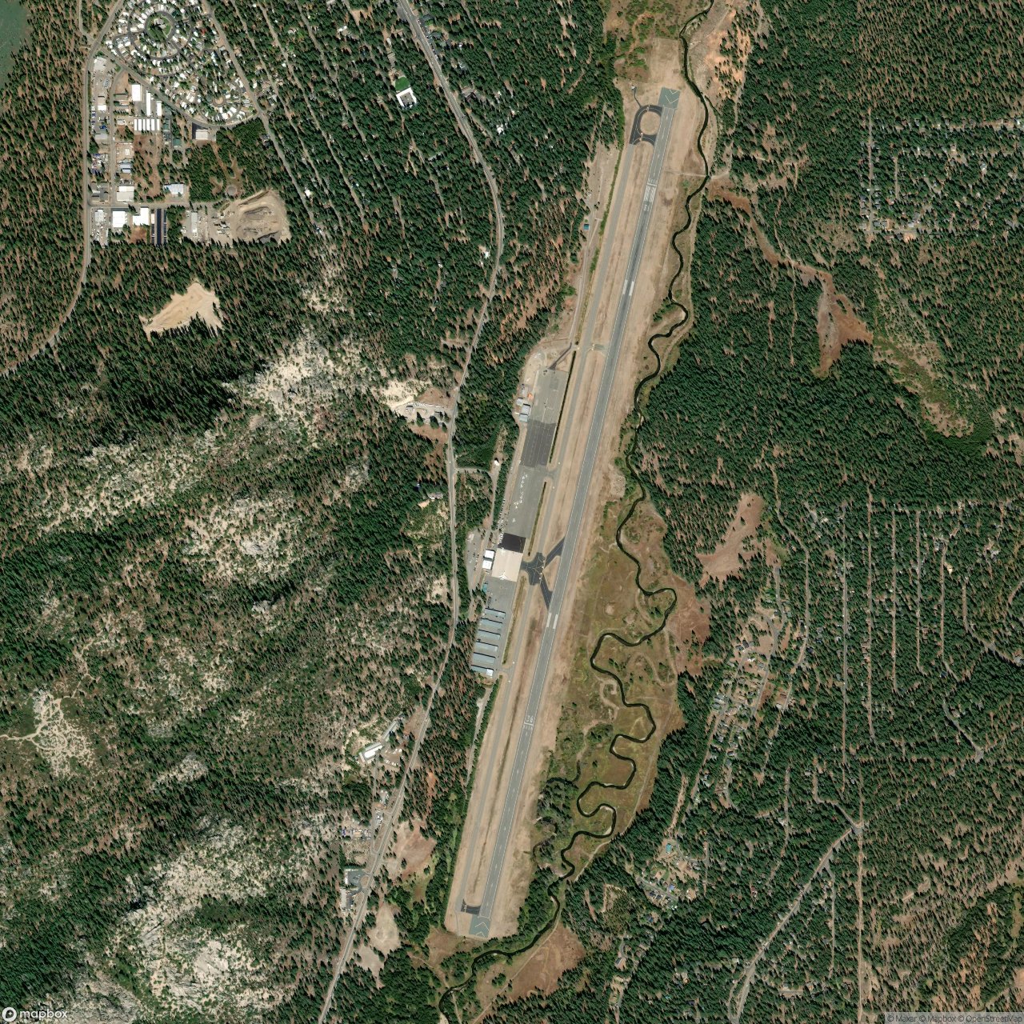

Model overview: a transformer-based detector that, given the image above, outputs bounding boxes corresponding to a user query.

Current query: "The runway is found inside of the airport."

[479,107,674,918]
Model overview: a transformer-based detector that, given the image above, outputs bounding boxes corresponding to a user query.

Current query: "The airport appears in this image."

[455,88,681,937]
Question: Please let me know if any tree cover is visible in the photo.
Yes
